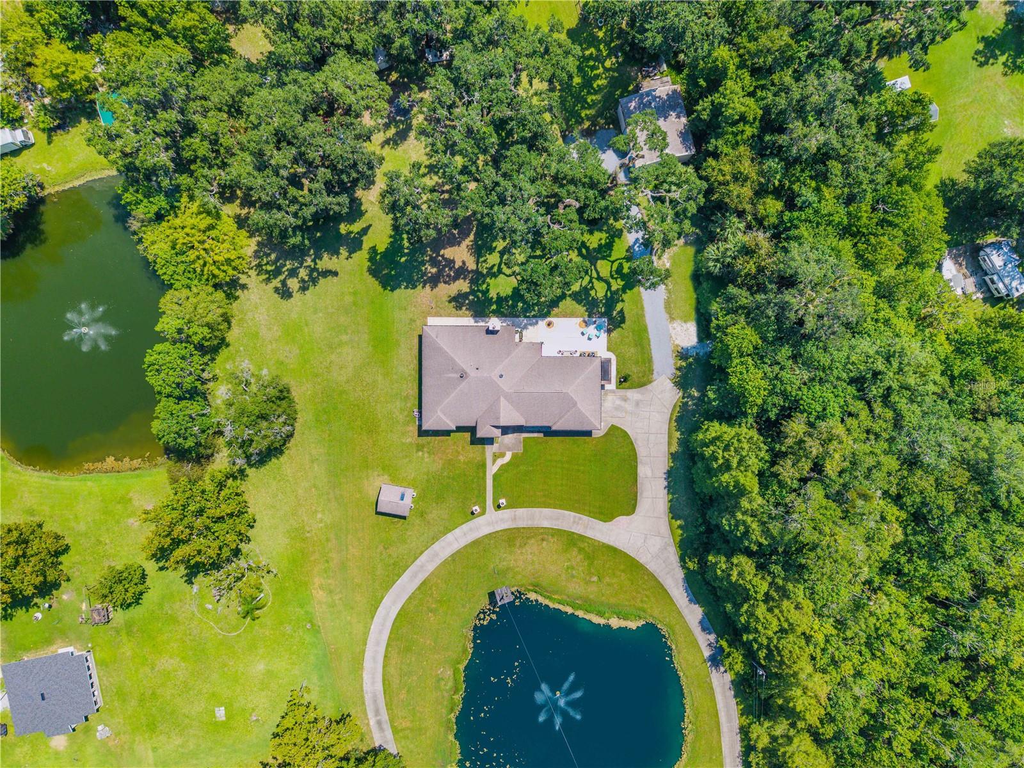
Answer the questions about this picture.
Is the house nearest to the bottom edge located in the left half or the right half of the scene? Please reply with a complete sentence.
It is on the left.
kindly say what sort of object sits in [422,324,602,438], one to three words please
house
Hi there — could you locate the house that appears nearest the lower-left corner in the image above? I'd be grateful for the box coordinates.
[0,646,106,737]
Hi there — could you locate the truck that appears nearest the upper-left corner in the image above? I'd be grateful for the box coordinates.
[0,128,42,156]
